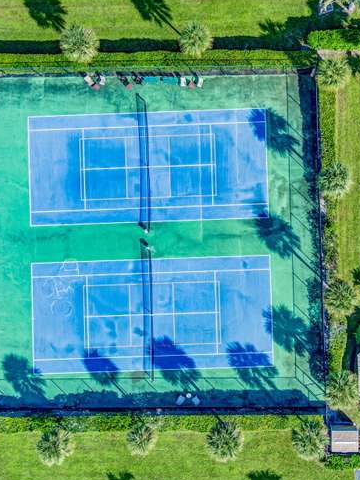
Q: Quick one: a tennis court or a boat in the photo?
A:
tennis court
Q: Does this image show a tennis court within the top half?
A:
Yes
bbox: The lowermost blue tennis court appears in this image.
[32,256,273,374]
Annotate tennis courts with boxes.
[32,256,273,374]
[28,109,269,226]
